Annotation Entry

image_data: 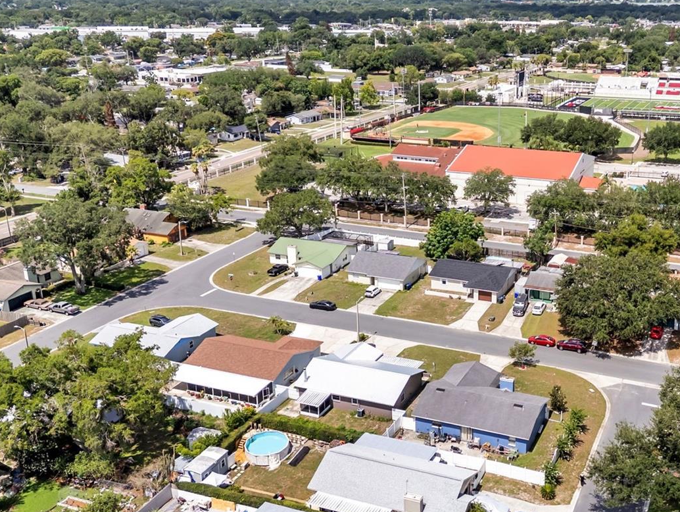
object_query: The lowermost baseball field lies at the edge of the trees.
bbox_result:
[364,107,633,159]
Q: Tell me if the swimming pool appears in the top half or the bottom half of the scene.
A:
bottom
